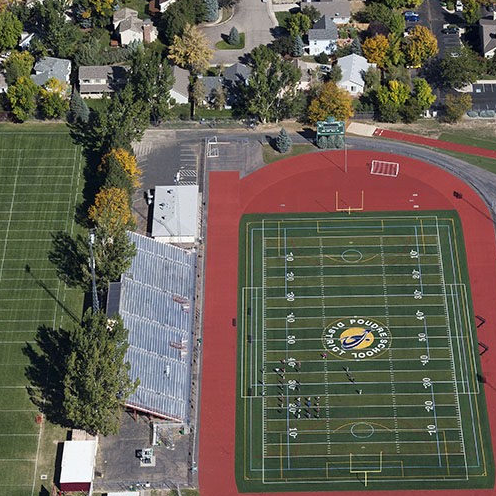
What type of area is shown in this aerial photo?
sports ground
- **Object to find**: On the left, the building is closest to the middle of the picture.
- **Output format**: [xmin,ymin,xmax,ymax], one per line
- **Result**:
[152,186,198,245]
